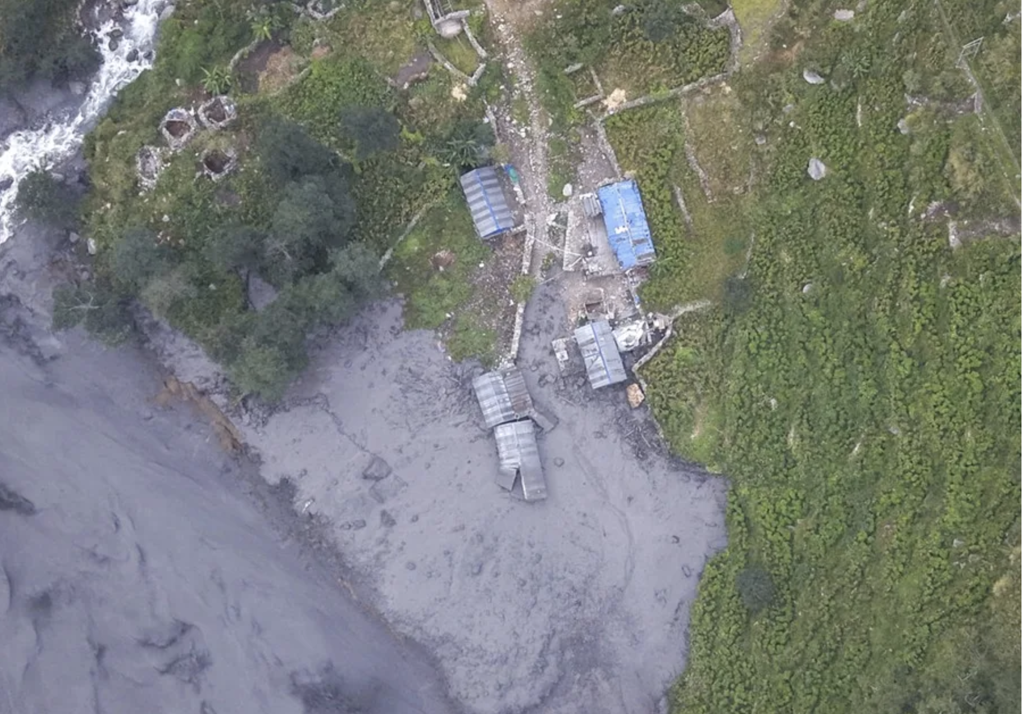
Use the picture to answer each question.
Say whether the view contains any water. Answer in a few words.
Yes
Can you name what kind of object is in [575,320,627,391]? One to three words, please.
shed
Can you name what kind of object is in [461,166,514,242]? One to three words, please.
shed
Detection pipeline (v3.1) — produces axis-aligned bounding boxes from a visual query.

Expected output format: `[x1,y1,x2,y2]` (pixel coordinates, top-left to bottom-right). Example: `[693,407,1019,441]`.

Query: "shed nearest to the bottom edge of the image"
[494,421,546,500]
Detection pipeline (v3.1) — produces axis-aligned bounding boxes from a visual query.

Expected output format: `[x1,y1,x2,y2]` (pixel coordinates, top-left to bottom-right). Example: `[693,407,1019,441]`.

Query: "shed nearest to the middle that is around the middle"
[472,369,533,429]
